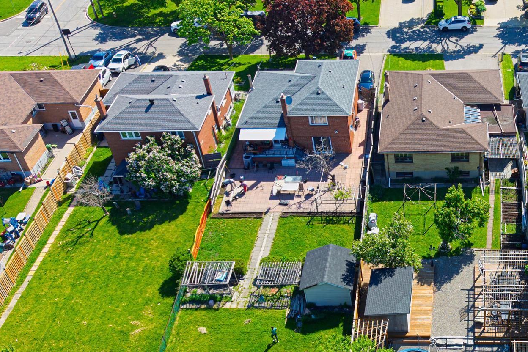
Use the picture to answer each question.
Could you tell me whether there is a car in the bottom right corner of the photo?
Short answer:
No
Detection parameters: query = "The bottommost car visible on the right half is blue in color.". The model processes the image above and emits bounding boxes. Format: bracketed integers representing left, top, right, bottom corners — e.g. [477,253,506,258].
[359,70,377,92]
